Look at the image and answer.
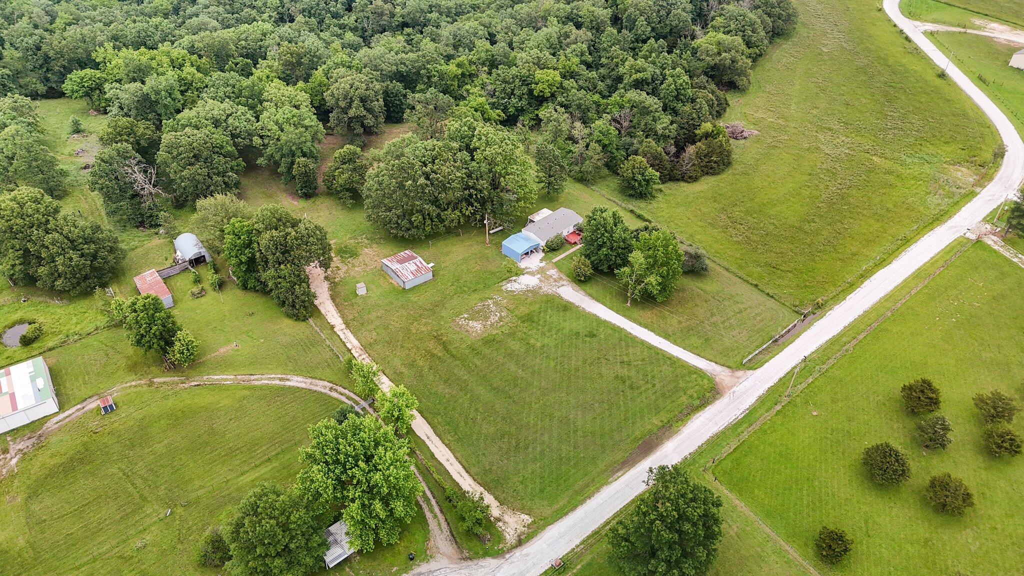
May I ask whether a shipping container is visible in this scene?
No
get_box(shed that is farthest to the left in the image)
[0,352,59,433]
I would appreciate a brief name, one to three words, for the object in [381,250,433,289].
shed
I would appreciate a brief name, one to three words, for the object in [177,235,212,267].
barn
